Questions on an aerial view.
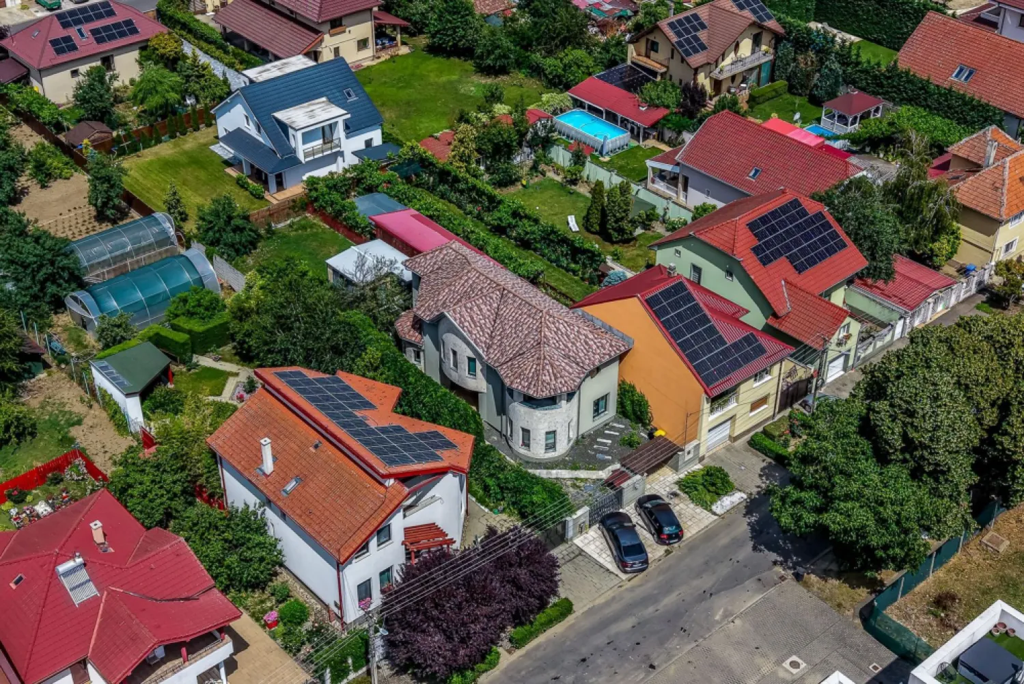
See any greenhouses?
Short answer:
Yes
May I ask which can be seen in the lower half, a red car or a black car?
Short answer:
black car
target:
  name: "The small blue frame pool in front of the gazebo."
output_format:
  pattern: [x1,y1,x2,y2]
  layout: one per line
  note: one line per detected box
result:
[803,124,839,146]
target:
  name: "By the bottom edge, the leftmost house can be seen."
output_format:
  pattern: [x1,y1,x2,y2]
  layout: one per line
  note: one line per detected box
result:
[0,486,243,684]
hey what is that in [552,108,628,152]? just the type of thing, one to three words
swimming pool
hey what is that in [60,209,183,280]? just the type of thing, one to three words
greenhouse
